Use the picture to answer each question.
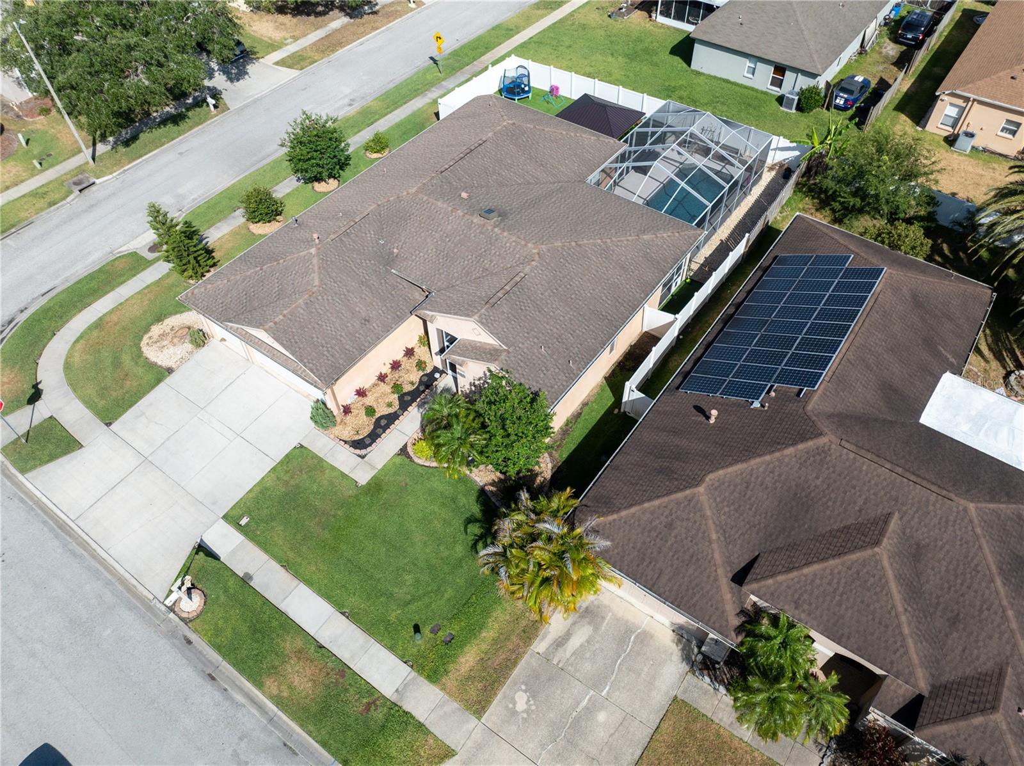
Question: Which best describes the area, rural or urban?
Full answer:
The area is urban.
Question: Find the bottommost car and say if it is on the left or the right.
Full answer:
The bottommost car sits on the right side.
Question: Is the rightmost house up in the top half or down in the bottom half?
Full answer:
The rightmost house is in the top half of the image.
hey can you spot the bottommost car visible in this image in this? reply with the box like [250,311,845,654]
[836,70,879,107]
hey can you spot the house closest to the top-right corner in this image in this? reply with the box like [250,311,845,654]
[928,0,1024,154]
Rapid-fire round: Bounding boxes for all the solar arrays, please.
[682,254,882,407]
